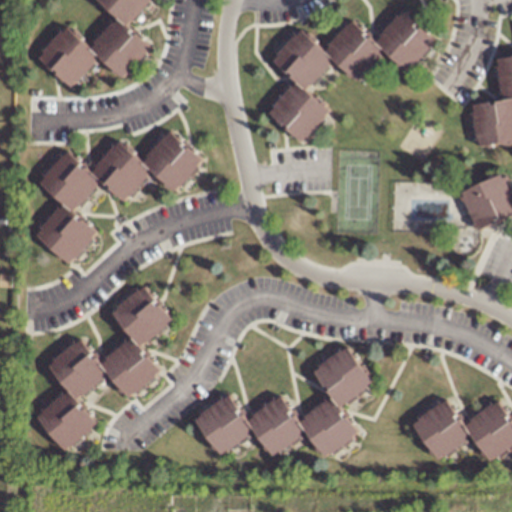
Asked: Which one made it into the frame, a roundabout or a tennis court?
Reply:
tennis court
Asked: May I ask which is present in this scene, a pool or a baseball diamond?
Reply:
pool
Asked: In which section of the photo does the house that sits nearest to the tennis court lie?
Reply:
top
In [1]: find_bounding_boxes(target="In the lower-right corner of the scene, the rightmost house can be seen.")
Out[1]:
[466,404,512,460]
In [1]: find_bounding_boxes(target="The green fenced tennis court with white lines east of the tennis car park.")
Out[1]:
[339,150,380,234]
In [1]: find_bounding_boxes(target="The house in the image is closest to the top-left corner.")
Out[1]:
[40,29,98,88]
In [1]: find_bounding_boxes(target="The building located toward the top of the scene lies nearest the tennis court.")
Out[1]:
[270,83,329,141]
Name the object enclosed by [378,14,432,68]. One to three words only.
house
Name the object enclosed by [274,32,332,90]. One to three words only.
house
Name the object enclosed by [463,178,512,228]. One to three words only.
building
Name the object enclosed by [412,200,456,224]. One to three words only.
swimming pool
